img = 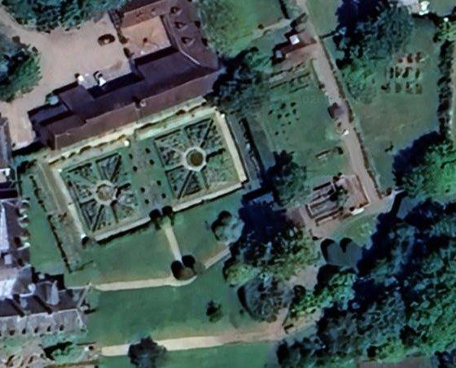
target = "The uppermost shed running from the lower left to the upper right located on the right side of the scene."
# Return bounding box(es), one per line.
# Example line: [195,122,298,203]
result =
[273,29,315,60]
